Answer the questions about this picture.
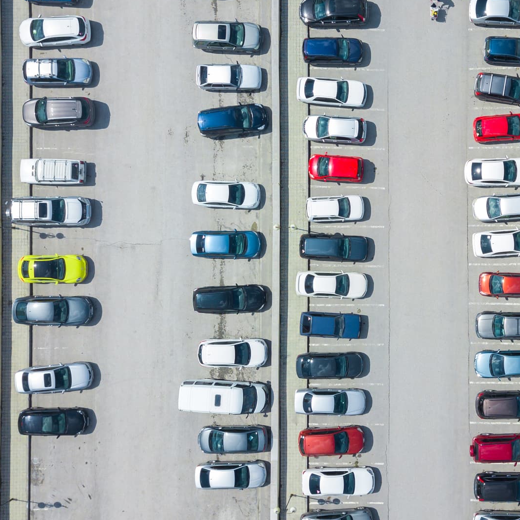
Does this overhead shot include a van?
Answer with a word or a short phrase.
Yes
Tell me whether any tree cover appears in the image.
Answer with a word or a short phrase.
No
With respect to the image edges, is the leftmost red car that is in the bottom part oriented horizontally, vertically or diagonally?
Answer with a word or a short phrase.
horizontally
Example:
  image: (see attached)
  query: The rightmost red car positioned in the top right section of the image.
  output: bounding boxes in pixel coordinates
[473,110,520,145]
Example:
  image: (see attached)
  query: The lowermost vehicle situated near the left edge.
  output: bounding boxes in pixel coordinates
[16,405,90,439]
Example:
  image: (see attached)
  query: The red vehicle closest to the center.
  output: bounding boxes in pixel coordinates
[308,151,363,183]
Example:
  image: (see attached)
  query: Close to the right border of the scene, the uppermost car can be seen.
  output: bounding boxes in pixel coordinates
[469,0,520,30]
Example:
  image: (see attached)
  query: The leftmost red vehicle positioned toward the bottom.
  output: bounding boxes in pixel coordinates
[298,423,365,458]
